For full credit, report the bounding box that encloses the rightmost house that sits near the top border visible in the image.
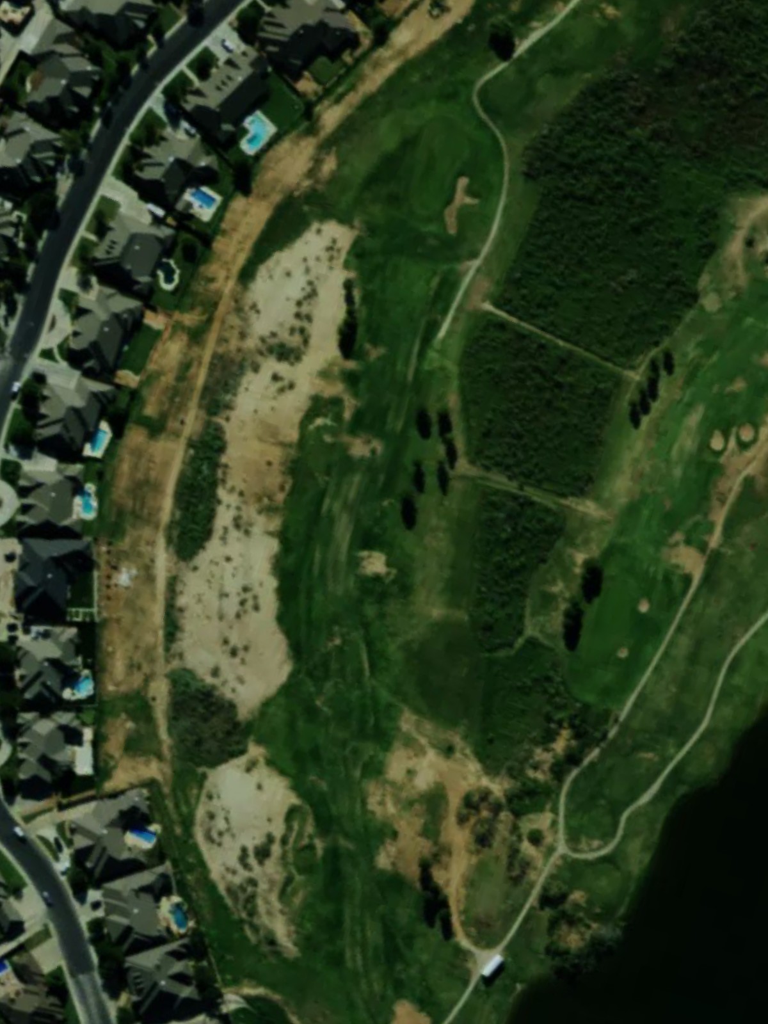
[250,0,364,79]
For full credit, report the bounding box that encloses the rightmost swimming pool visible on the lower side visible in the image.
[163,894,196,932]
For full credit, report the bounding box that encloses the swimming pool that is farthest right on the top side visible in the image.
[239,110,277,156]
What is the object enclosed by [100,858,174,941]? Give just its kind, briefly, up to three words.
house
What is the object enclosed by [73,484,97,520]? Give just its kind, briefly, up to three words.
swimming pool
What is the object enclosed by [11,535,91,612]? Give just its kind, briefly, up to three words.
house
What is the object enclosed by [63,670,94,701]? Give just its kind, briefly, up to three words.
swimming pool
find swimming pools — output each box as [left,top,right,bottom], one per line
[63,670,94,701]
[187,186,223,216]
[0,960,10,973]
[73,484,97,520]
[239,110,277,156]
[82,420,111,459]
[129,823,161,847]
[163,894,196,932]
[157,258,180,290]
